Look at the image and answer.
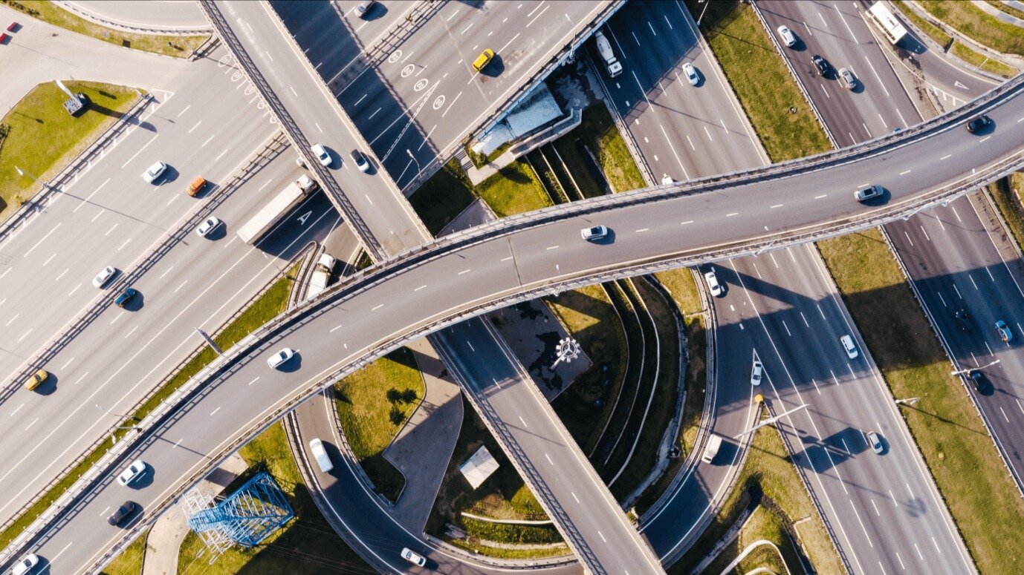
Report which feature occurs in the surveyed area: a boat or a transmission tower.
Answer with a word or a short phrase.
transmission tower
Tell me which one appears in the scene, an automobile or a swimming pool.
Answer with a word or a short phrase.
automobile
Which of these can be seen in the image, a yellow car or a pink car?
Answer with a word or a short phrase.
yellow car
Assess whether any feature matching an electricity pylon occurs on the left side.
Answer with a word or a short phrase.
Yes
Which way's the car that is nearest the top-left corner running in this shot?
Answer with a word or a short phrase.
on a diagonal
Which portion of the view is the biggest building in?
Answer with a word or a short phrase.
top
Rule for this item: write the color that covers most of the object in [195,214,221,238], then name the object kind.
white car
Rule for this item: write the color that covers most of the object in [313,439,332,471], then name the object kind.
white vehicle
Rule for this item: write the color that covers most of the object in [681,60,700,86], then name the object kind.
white car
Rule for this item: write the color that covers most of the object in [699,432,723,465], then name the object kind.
white truck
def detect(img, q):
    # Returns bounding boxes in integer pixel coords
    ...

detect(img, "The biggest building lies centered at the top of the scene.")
[507,82,563,136]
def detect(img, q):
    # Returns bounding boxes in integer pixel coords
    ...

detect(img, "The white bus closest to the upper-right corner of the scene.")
[865,0,907,46]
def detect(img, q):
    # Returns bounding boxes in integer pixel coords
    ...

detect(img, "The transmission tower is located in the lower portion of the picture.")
[175,474,295,562]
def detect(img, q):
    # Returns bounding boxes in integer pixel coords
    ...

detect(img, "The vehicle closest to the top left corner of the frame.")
[142,160,167,184]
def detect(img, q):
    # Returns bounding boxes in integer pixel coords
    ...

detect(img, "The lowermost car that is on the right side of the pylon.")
[400,547,426,567]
